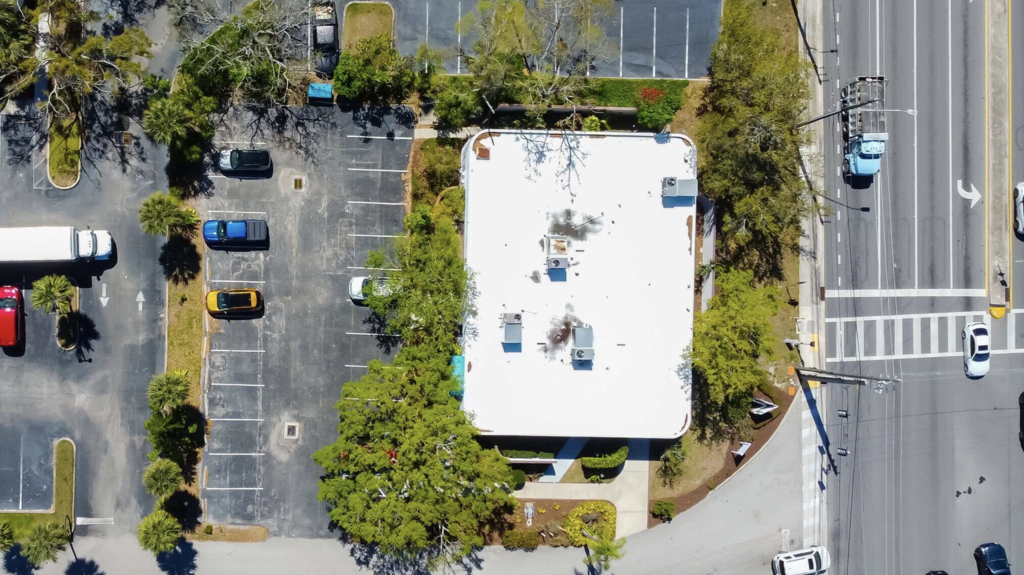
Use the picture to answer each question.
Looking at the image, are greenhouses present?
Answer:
No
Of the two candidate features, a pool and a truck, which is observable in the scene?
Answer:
truck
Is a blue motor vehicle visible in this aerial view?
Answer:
Yes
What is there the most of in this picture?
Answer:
paved ground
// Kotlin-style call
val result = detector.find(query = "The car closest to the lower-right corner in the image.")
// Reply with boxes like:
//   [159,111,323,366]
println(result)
[977,541,1013,575]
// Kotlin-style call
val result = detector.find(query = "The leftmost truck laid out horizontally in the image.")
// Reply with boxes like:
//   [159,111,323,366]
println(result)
[0,224,117,263]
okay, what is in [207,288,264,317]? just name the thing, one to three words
car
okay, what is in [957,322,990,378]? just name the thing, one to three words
car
